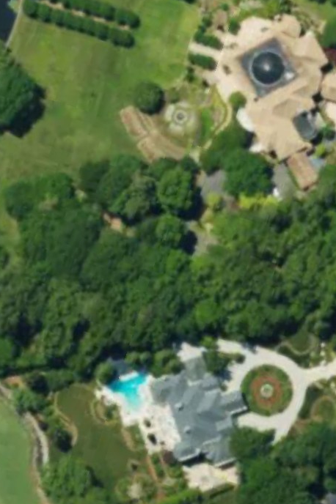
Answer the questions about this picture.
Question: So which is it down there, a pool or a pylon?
pool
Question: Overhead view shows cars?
No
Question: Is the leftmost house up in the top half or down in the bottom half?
bottom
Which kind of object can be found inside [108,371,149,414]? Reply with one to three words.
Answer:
swimming pool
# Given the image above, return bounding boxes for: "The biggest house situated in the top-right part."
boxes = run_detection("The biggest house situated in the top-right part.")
[234,15,327,163]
